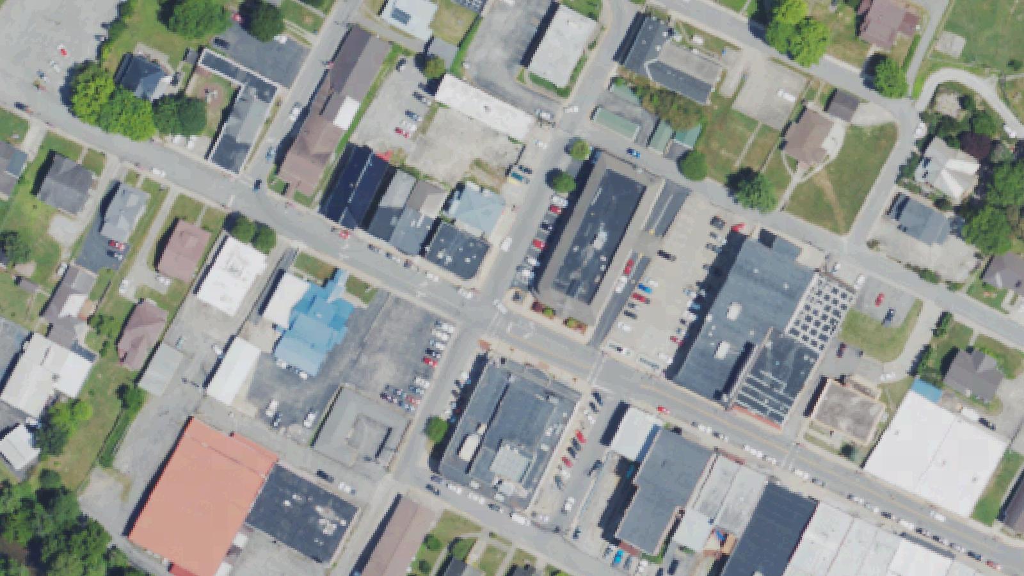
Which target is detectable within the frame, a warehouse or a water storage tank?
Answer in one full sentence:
Of the two, only a warehouse appears.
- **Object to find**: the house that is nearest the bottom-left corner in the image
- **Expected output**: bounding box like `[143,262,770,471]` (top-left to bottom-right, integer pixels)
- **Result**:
[0,423,41,479]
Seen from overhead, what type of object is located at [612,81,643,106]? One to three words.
shed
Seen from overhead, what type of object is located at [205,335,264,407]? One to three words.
building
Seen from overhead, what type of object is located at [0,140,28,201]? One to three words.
house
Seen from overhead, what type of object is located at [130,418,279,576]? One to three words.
warehouse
